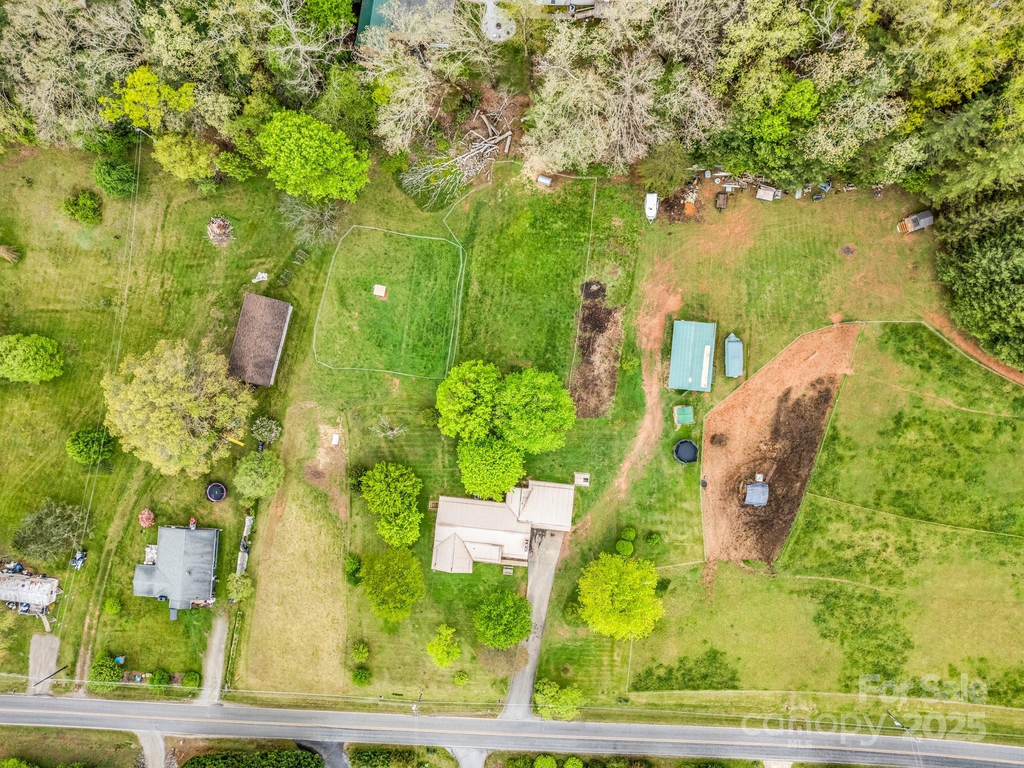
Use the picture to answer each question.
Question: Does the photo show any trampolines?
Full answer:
Yes, looking at the shot, I can spot a trampoline.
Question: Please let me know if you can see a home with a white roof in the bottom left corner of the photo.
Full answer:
Yes, I can see a home with a white roof in the bottom left corner of the photo.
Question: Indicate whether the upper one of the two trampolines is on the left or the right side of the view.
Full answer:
The upper one of the two trampolines appears in the right half of the scene.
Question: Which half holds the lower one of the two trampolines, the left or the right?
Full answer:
The lower one of the two trampolines sits on the left side.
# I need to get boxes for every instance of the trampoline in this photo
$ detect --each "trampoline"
[204,482,227,504]
[675,441,699,466]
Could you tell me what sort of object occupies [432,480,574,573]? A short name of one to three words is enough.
house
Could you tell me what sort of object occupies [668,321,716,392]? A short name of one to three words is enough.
barn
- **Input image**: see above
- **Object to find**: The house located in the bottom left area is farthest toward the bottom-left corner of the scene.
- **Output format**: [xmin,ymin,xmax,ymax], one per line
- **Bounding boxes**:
[0,573,62,609]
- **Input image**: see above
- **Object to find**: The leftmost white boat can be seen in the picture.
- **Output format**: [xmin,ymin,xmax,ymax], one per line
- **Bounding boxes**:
[644,194,660,225]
